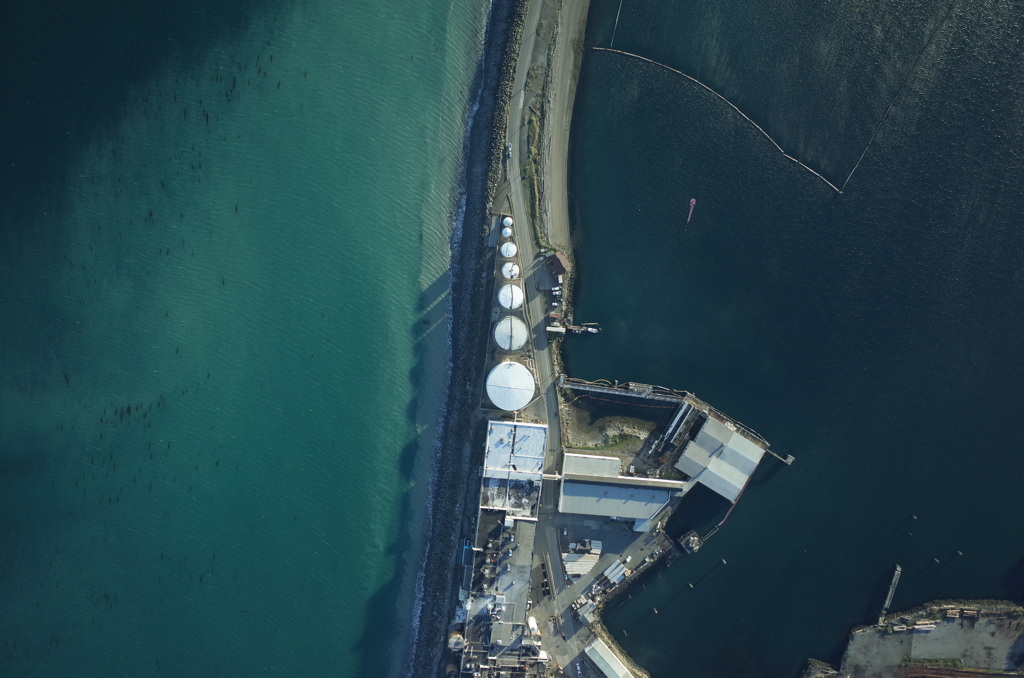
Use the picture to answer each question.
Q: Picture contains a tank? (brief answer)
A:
Yes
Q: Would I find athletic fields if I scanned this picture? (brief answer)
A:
No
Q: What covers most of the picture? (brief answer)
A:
water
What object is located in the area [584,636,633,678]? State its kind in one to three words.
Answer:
building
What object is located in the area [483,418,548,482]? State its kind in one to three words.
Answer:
building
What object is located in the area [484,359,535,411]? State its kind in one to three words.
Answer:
storage tank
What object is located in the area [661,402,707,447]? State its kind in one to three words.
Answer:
pier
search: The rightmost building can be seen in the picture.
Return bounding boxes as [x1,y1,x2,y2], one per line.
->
[672,416,766,502]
